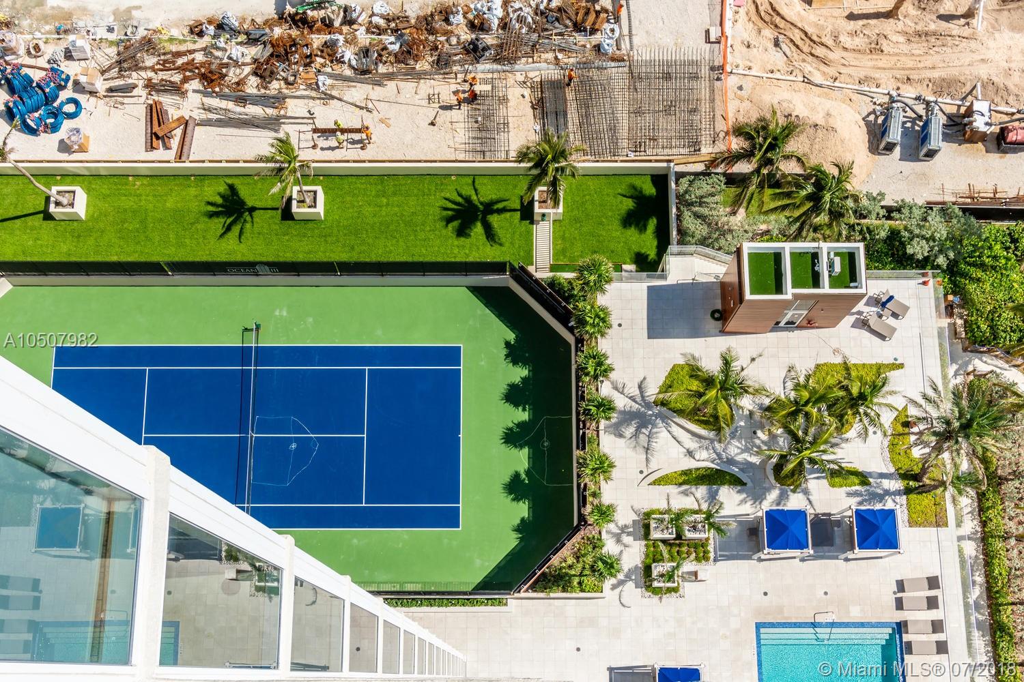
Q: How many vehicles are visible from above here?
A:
zero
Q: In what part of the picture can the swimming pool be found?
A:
bottom right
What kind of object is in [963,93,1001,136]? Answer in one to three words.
storage tank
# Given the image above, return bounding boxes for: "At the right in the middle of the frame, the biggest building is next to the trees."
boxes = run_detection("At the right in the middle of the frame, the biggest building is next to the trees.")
[718,243,866,333]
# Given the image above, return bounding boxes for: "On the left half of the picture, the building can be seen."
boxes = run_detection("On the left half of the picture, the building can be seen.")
[0,359,465,677]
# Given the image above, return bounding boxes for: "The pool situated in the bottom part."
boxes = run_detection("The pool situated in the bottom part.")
[750,617,912,682]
